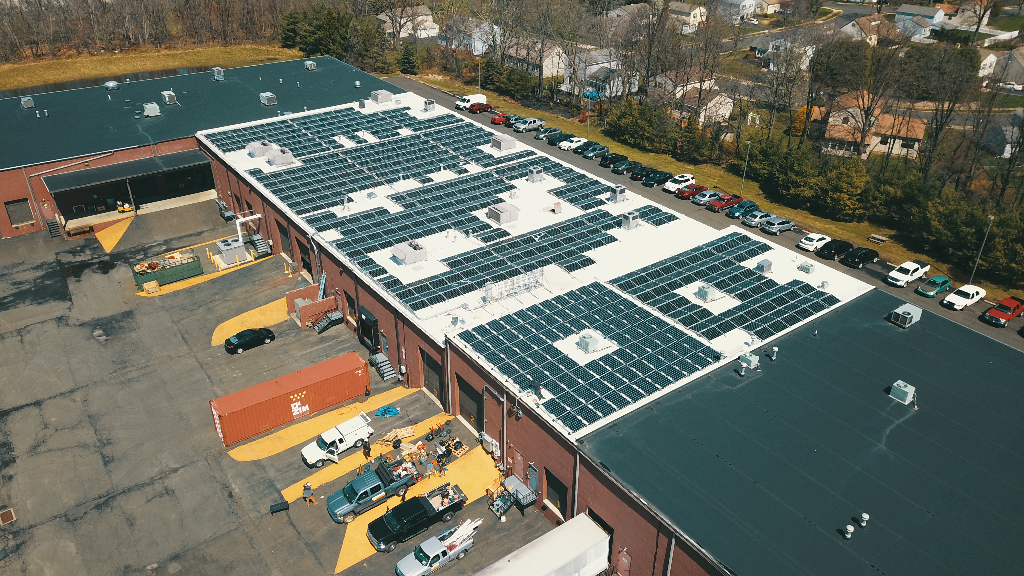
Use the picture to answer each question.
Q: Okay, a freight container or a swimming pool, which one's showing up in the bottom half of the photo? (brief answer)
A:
freight container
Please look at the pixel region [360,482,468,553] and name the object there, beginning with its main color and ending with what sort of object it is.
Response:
black truck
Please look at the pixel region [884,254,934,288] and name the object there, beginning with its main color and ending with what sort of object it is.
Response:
white truck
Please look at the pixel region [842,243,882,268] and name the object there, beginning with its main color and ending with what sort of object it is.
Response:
black car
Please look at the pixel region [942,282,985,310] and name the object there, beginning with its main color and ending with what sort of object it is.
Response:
white car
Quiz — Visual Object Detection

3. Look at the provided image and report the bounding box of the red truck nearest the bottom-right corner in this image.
[981,290,1024,328]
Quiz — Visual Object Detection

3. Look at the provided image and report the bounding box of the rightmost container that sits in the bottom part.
[210,351,370,445]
